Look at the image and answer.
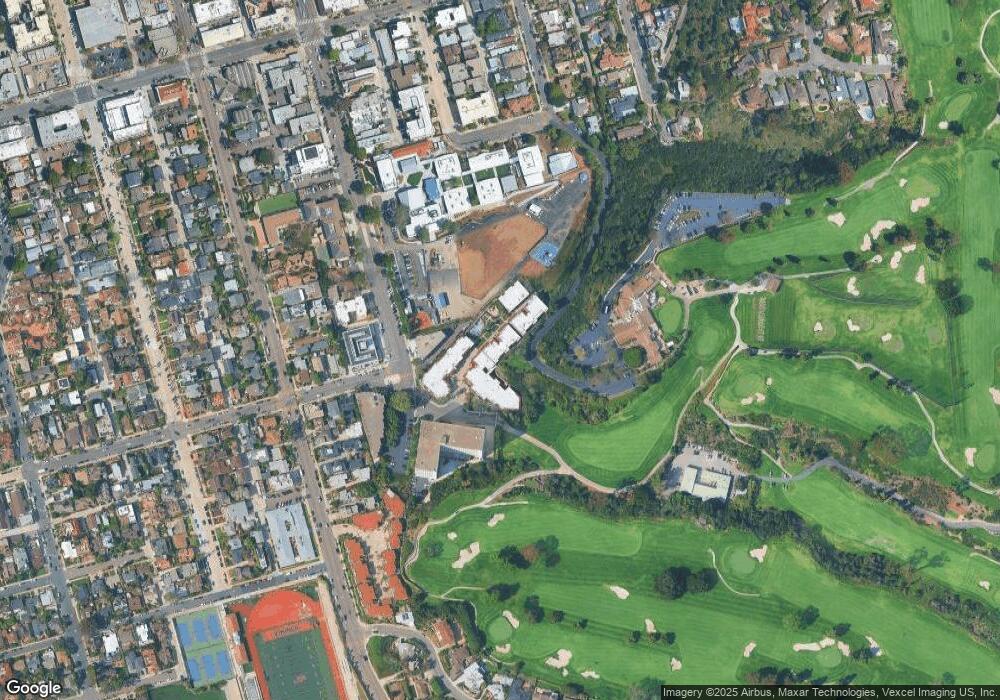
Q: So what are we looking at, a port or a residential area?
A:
residential area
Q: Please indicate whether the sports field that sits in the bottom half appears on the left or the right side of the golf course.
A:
on the left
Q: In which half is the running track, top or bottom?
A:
bottom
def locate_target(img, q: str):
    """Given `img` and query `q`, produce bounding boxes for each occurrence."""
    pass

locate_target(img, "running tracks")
[230,590,348,700]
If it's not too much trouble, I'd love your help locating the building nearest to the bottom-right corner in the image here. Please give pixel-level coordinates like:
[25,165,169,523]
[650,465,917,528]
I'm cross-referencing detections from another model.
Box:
[682,467,731,501]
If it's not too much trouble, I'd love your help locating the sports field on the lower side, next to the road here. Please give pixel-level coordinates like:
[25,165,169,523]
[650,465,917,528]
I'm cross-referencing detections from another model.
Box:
[255,621,339,700]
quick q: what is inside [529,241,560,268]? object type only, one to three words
basketball court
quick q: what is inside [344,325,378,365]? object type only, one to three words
building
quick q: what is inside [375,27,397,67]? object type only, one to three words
house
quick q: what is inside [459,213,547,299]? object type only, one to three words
sports field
